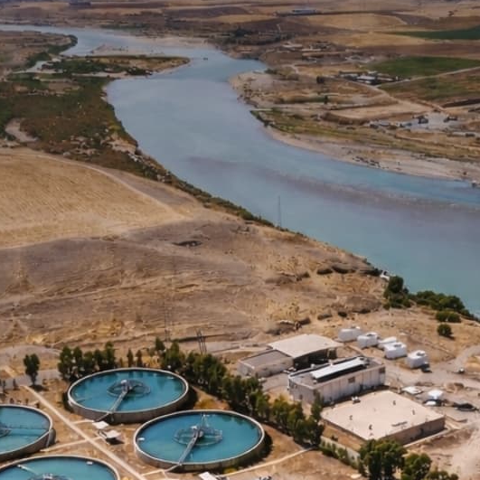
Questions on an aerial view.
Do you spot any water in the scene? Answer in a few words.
Yes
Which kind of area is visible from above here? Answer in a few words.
industrial area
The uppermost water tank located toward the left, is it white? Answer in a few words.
No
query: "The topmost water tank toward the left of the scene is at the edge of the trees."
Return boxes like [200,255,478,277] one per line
[68,369,189,430]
